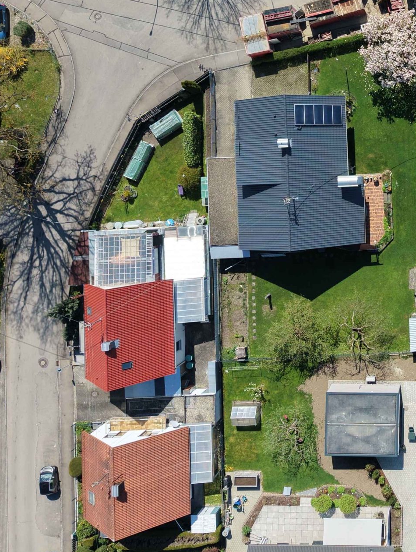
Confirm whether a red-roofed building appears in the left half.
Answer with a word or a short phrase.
Yes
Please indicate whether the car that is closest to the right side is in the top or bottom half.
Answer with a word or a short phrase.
bottom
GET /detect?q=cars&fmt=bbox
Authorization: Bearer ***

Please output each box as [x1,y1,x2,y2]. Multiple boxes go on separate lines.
[39,467,61,495]
[0,3,11,43]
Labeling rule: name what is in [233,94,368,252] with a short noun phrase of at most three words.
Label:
house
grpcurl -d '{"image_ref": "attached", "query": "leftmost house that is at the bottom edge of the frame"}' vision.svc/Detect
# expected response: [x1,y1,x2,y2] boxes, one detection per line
[81,414,200,541]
